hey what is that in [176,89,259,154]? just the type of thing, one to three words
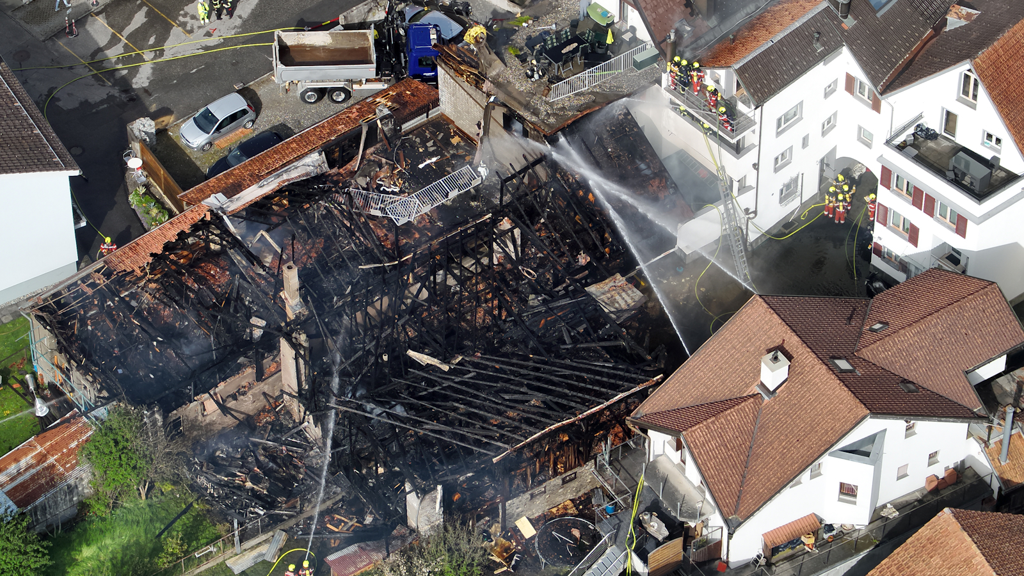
car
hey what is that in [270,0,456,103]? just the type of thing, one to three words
truck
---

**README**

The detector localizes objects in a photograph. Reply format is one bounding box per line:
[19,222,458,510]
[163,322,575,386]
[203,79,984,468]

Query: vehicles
[176,89,259,154]
[413,12,468,49]
[270,0,456,103]
[866,266,894,292]
[208,123,287,176]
